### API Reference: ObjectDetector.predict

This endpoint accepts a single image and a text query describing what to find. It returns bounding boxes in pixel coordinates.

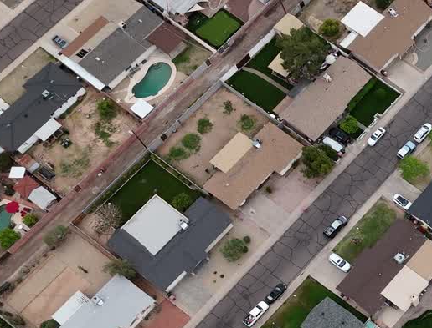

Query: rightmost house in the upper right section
[340,0,432,73]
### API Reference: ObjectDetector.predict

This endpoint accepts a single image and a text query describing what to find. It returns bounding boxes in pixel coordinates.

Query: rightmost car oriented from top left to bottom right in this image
[392,192,411,211]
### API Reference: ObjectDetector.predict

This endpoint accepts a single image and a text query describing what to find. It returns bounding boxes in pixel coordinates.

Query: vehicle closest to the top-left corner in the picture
[50,36,68,49]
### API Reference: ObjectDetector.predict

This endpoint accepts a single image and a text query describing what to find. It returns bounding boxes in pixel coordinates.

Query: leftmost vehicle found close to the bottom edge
[243,302,269,327]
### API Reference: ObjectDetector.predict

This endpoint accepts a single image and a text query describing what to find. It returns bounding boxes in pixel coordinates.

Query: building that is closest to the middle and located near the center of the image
[204,124,301,211]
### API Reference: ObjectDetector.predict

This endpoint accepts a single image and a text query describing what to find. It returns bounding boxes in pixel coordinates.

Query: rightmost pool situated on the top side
[128,57,176,100]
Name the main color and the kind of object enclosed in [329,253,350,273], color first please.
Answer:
white car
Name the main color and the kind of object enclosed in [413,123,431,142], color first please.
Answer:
white car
